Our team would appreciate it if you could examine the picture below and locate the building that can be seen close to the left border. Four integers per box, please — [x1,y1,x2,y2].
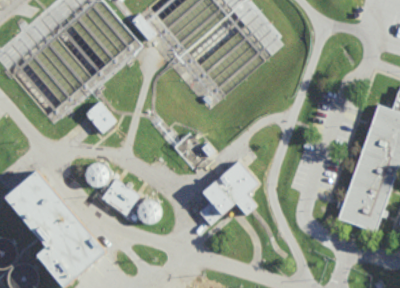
[6,172,106,288]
